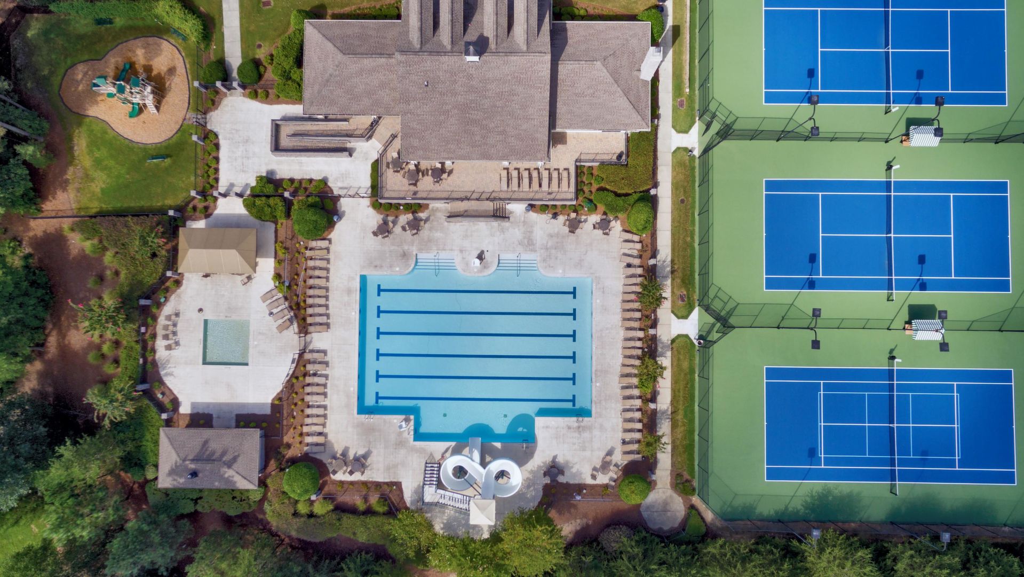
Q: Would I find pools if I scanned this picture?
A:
Yes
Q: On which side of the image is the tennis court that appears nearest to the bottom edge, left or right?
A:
right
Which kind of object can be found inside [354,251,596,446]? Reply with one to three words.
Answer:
swimming pool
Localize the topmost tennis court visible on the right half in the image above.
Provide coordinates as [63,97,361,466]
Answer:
[699,0,1024,157]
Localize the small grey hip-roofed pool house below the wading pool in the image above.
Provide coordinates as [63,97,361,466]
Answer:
[157,424,272,489]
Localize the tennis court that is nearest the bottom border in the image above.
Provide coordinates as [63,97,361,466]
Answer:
[699,327,1024,525]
